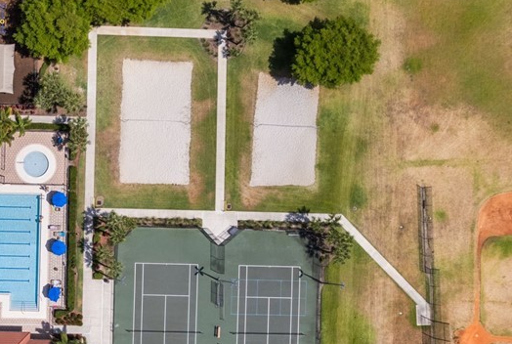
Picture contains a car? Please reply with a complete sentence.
No, no car is visible in the view.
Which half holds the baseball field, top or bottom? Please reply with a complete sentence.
The baseball field is in the bottom half of the image.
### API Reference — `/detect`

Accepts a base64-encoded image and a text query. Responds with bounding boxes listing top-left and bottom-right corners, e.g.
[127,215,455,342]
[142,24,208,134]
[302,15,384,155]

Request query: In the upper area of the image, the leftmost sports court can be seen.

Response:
[119,60,195,184]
